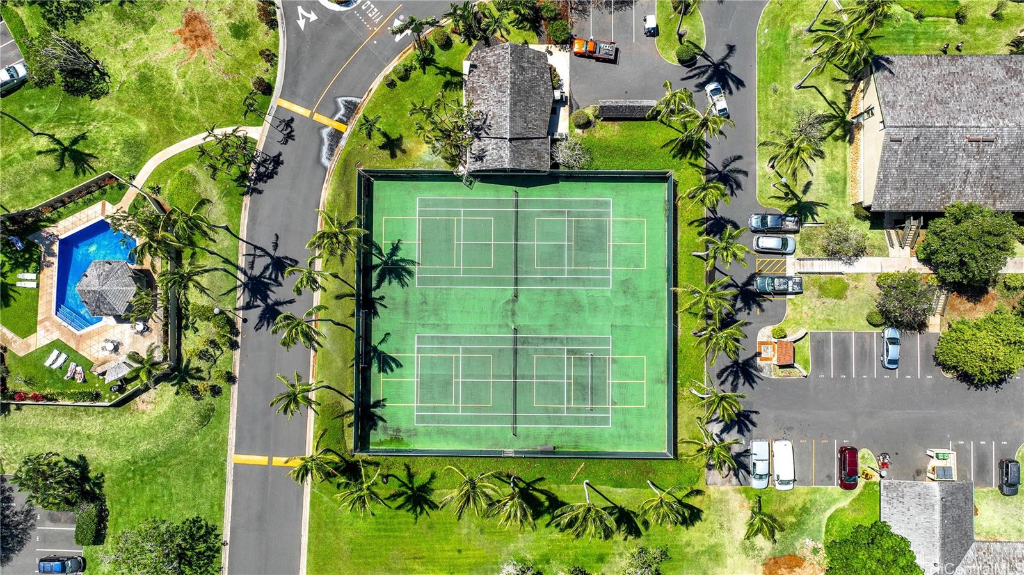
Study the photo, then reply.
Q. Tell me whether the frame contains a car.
Yes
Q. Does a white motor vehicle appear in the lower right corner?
Yes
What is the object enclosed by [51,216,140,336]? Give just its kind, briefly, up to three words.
swimming pool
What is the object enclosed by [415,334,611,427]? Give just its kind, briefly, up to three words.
tennis court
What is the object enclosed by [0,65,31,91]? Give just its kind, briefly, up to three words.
car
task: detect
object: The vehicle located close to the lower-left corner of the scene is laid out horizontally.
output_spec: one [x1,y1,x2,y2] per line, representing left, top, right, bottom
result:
[36,554,88,575]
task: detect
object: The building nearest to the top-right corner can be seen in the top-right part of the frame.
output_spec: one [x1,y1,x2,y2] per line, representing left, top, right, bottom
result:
[849,55,1024,249]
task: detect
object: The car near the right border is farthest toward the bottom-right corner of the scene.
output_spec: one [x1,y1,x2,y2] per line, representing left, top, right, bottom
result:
[997,456,1022,496]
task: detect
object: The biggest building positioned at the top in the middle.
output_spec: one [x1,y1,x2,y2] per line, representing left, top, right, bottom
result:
[465,42,554,170]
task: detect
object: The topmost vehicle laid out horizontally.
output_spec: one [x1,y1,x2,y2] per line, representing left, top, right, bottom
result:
[573,38,617,61]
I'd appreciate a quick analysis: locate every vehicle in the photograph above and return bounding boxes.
[773,441,796,490]
[750,213,802,234]
[838,446,861,489]
[753,235,795,254]
[643,14,657,39]
[997,456,1022,496]
[704,83,730,122]
[754,276,803,296]
[573,38,617,61]
[0,65,31,91]
[749,441,771,488]
[36,554,88,575]
[879,329,900,369]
